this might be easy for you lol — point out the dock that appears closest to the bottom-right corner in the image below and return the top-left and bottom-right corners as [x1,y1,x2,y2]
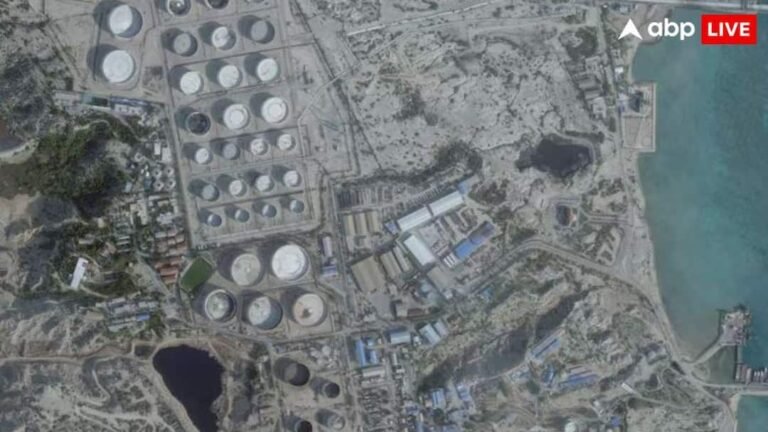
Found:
[713,310,748,350]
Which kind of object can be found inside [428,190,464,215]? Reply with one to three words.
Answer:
building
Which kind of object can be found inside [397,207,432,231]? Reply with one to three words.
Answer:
building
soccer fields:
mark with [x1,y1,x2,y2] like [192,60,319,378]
[178,254,215,294]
